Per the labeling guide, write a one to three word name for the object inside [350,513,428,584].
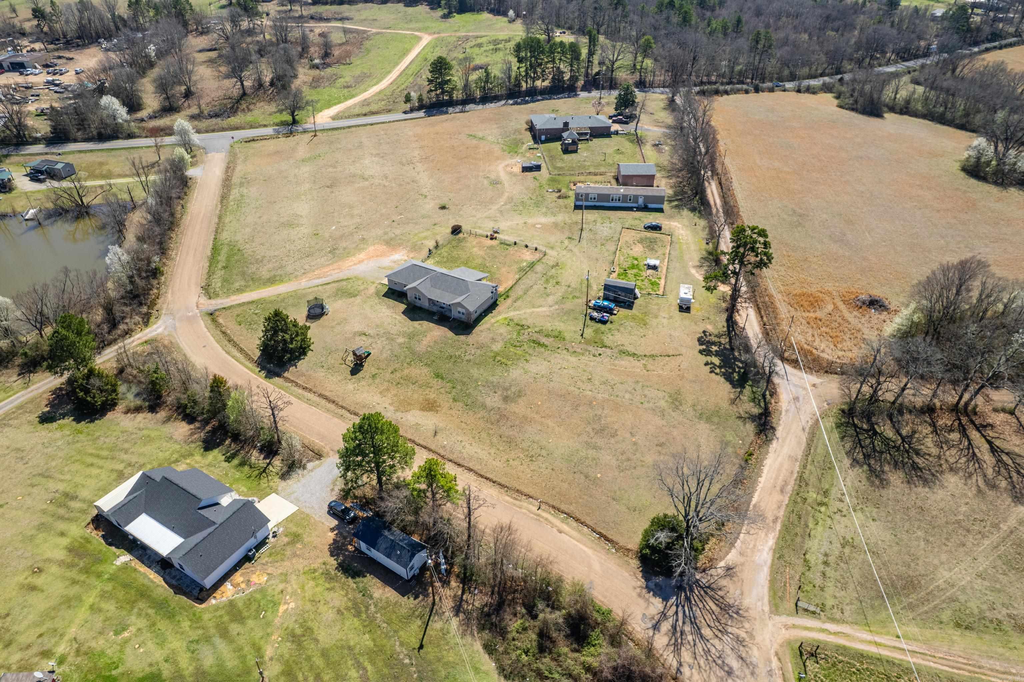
building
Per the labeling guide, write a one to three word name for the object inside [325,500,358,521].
car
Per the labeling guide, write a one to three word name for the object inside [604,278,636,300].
shed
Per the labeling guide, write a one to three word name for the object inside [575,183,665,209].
house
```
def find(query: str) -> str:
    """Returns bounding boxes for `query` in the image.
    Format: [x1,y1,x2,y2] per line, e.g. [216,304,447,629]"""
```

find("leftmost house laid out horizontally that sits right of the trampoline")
[385,256,500,324]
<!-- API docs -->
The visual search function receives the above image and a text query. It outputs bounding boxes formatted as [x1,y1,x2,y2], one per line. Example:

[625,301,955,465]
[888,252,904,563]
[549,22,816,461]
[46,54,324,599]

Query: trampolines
[304,297,330,316]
